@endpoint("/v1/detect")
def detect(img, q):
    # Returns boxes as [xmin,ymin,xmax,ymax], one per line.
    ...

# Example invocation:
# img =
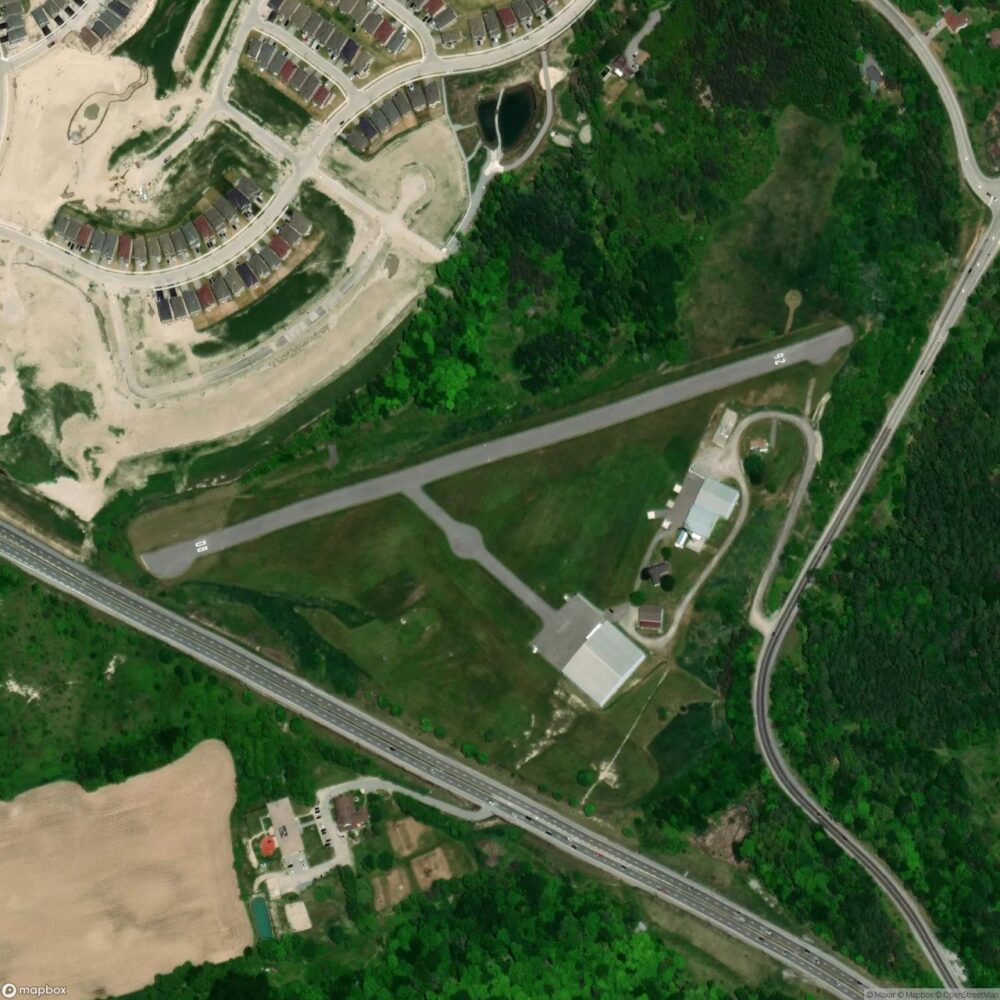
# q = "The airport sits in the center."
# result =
[141,325,854,671]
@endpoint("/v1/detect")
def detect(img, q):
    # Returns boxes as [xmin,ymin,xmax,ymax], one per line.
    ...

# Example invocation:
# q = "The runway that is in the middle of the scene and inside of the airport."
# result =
[141,325,854,581]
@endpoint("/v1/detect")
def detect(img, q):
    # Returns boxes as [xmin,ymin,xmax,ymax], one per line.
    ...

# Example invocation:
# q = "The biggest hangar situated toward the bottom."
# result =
[562,620,646,705]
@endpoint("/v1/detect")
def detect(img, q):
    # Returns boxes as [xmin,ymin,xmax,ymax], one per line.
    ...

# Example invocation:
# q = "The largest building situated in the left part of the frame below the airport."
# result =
[268,798,305,857]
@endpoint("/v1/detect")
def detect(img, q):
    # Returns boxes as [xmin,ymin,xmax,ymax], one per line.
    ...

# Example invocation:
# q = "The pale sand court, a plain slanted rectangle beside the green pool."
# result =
[285,902,312,932]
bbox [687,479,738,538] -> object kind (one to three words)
hangar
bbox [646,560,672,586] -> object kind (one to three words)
house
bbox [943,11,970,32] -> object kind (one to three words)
house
